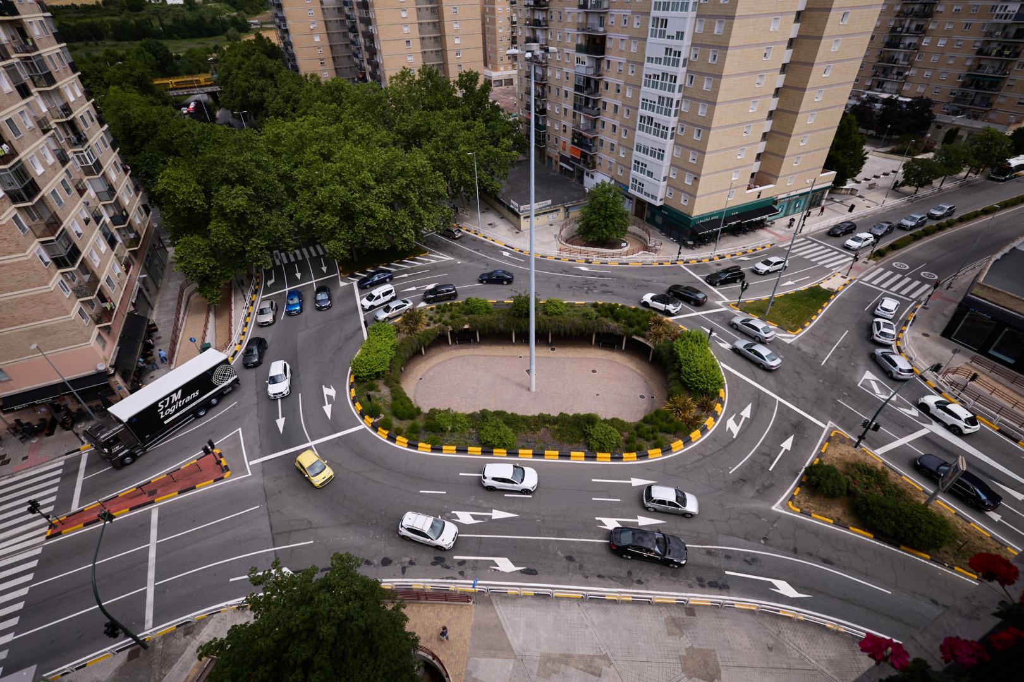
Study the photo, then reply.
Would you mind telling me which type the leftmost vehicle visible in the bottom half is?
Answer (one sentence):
Specifically, the leftmost vehicle visible in the bottom half is a truck.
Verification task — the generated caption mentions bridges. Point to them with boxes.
[159,80,246,102]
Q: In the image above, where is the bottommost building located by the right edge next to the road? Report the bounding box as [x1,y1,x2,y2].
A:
[941,223,1024,372]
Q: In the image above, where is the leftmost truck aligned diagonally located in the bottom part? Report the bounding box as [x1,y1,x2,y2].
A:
[76,349,242,473]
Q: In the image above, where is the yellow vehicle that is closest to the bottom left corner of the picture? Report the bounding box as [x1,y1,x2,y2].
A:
[294,449,332,489]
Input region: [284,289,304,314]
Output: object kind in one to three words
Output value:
car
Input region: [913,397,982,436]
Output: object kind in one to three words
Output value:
car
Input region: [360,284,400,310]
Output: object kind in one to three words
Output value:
vehicle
